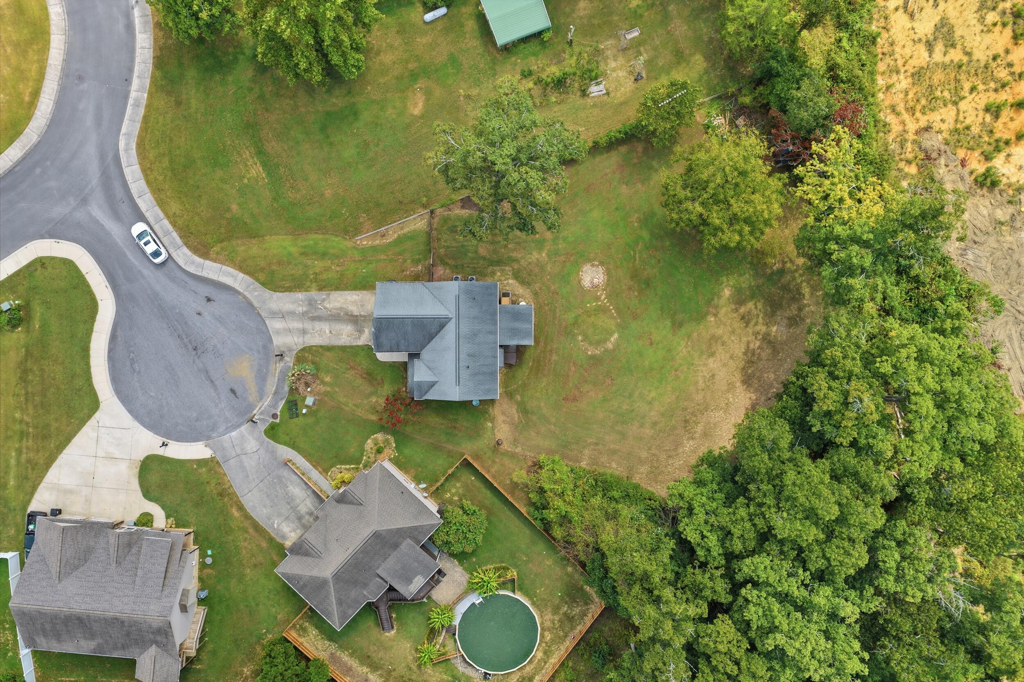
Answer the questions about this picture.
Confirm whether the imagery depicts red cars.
No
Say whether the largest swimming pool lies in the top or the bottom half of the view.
bottom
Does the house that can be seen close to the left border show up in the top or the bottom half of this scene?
bottom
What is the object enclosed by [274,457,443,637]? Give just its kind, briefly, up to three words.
house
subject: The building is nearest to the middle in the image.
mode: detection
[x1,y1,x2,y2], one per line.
[373,281,534,401]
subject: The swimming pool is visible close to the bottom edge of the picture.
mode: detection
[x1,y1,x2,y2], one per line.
[451,586,539,673]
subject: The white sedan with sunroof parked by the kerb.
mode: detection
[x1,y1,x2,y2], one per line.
[128,219,165,265]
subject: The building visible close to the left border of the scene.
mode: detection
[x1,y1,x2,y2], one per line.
[9,514,216,682]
